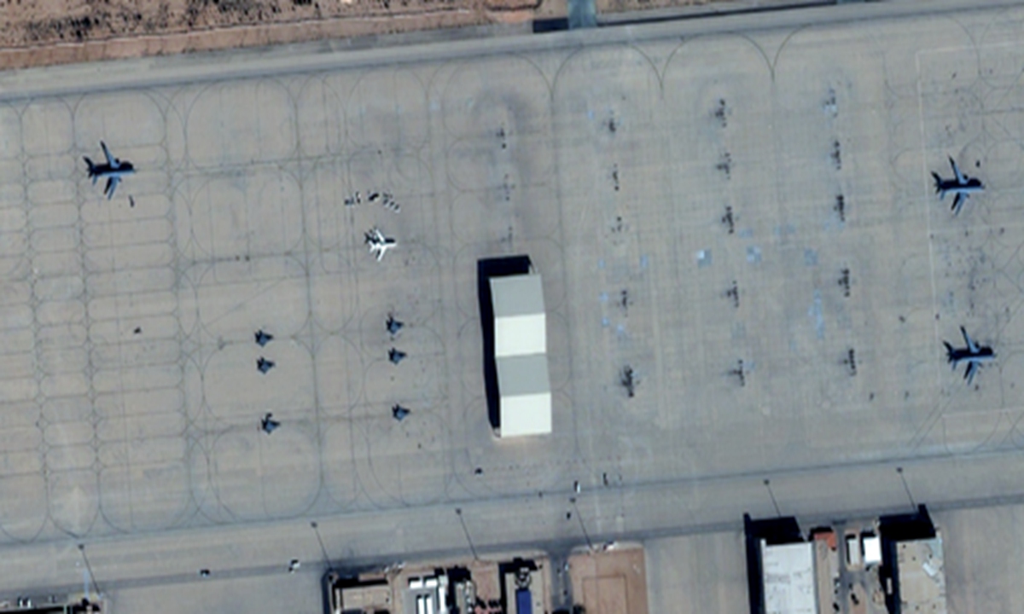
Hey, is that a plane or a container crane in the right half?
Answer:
plane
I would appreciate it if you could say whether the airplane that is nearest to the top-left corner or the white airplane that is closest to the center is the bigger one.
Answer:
the airplane that is nearest to the top-left corner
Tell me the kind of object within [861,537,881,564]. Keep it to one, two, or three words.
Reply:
building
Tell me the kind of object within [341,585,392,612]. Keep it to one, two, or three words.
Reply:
building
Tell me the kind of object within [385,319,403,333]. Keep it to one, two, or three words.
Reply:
airplane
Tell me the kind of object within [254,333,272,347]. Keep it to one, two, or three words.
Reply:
airplane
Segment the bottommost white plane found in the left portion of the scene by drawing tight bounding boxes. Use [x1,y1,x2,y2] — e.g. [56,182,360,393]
[368,230,397,263]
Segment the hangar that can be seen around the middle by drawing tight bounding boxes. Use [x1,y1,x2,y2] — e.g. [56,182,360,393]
[484,272,552,438]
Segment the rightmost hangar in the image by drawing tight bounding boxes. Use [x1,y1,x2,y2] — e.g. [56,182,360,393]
[882,529,946,614]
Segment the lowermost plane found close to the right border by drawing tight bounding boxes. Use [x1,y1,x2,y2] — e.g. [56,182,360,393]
[952,332,997,380]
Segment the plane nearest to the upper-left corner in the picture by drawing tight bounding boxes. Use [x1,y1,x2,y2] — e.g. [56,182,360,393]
[91,149,138,199]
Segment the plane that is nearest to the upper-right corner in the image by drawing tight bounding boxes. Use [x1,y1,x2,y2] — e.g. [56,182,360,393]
[941,163,986,212]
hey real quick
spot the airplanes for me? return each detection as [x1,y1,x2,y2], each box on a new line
[392,408,410,421]
[257,360,274,373]
[952,332,997,380]
[262,419,279,433]
[91,149,138,199]
[254,333,272,347]
[385,319,403,333]
[941,163,986,212]
[388,351,407,364]
[368,230,397,263]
